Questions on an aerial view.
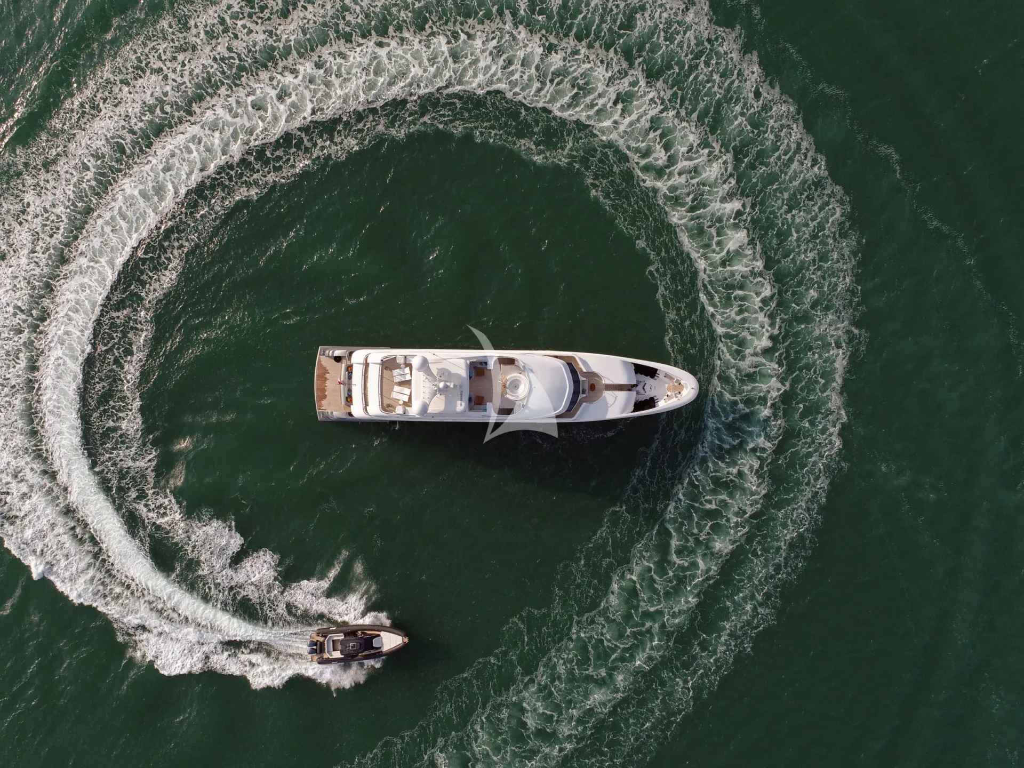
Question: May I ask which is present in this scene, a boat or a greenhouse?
boat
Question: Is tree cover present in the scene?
No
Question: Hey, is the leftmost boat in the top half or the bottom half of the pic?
bottom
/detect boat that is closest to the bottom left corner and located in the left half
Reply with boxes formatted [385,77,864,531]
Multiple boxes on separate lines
[308,625,409,665]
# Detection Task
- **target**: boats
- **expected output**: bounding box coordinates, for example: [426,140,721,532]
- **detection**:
[314,347,699,423]
[308,625,409,665]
